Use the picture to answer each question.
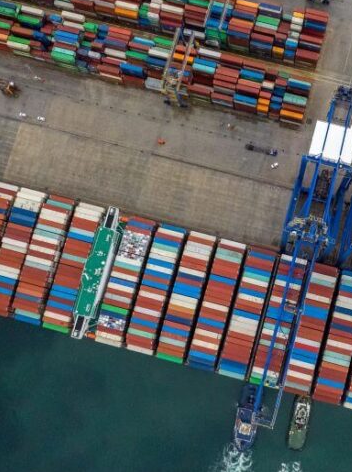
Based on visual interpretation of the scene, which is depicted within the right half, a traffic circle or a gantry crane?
gantry crane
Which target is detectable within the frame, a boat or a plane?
boat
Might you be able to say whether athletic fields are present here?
No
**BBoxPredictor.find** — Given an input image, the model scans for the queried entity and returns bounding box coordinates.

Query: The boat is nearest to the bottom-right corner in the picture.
[286,393,315,453]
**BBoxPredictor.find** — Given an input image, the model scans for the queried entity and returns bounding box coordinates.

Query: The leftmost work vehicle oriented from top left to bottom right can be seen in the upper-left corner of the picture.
[0,74,19,93]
